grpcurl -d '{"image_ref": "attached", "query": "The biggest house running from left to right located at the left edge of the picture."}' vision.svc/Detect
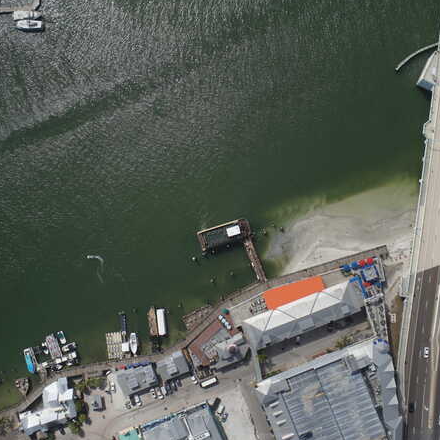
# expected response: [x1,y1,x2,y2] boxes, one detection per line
[21,405,78,434]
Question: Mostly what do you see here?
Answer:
water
